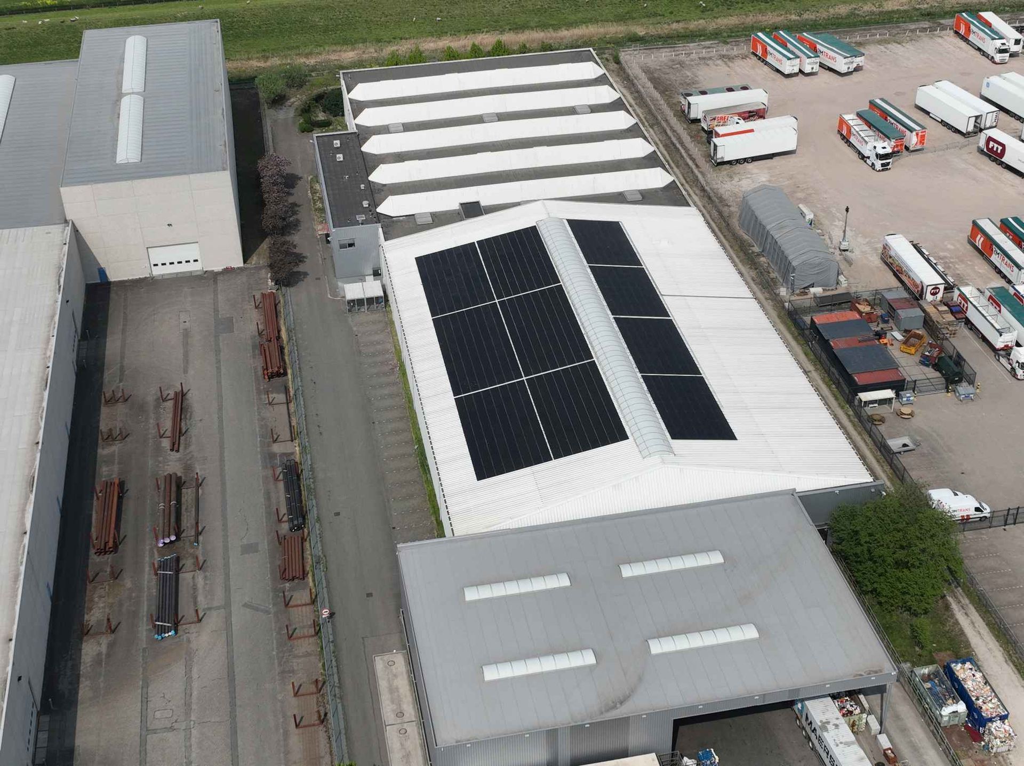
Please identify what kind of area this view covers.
industrial area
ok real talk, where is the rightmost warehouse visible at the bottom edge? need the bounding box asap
[396,487,898,766]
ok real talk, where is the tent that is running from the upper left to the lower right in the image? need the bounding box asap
[740,189,841,292]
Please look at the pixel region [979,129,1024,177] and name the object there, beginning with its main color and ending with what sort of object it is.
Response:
white trailer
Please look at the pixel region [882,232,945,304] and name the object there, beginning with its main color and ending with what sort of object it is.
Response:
white trailer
